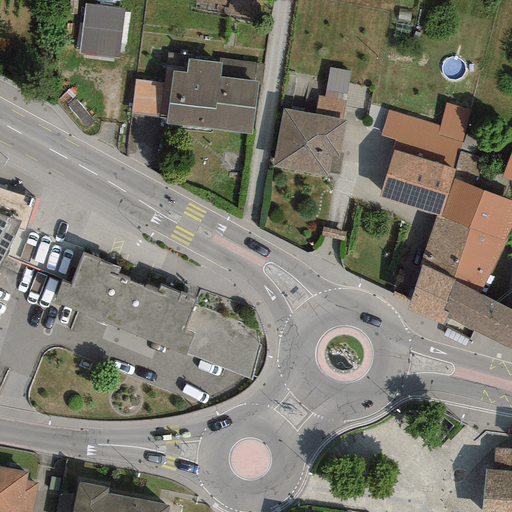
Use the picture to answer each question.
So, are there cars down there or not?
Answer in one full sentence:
Yes, a car is visible in the scene.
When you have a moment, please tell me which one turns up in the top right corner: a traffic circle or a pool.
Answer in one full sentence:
It is a pool that can be seen in the top right corner.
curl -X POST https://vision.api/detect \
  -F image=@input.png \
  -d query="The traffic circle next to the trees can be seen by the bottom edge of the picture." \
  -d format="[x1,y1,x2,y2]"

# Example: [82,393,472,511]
[199,406,303,510]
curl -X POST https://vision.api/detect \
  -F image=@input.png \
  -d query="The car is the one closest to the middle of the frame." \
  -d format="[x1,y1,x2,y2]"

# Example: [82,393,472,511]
[245,238,269,254]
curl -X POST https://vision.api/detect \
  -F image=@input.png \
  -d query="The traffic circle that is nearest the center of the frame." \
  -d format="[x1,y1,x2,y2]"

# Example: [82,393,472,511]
[292,302,396,406]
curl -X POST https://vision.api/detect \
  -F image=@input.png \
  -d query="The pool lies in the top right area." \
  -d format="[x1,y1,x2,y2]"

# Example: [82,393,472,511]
[442,51,467,80]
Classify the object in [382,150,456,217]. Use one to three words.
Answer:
house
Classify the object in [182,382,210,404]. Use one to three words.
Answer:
vehicle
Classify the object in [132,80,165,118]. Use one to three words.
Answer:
building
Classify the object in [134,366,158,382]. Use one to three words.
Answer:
car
